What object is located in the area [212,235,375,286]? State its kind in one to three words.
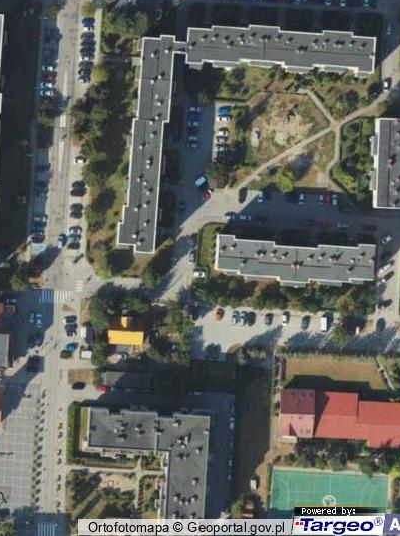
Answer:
building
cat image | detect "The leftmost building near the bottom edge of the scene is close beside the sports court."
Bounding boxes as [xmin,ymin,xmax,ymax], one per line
[83,406,210,536]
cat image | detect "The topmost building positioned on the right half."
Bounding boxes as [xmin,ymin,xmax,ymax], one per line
[185,25,375,79]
